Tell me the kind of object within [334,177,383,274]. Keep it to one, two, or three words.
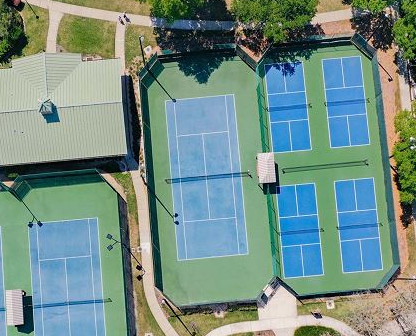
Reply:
sports court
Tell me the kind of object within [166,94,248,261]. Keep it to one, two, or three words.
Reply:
tennis court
